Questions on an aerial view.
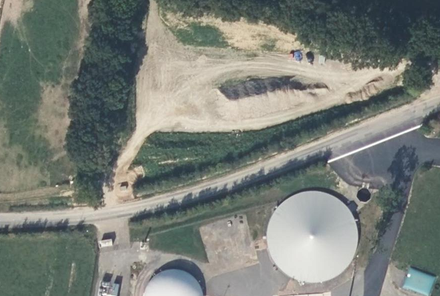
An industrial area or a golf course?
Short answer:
industrial area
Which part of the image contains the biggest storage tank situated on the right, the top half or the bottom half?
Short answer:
bottom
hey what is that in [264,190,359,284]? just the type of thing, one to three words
storage tank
